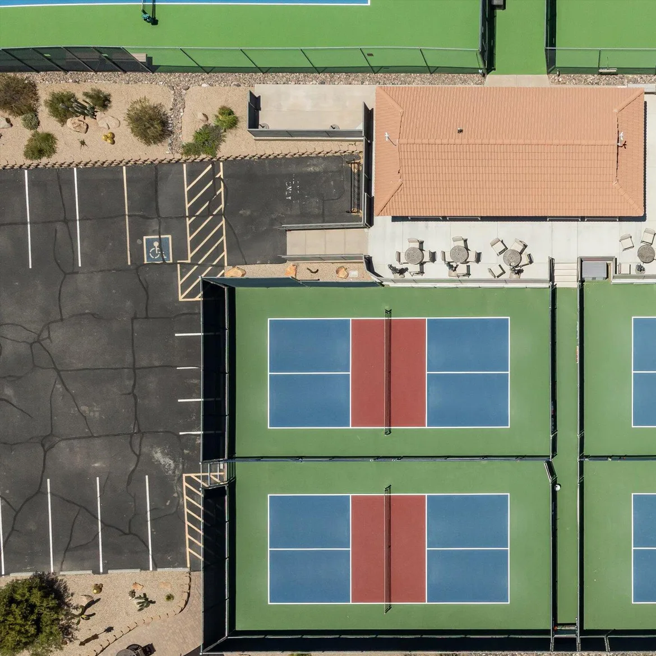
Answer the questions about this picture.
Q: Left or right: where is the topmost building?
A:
right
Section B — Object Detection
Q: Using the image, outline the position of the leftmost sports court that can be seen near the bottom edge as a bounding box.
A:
[227,461,553,635]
